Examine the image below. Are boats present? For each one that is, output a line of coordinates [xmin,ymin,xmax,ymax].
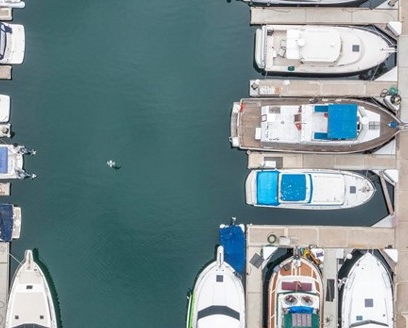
[0,22,26,64]
[243,163,378,215]
[254,24,398,79]
[187,246,247,328]
[0,202,22,239]
[0,0,23,8]
[231,97,408,163]
[218,217,247,273]
[0,139,37,180]
[6,250,57,328]
[264,245,328,328]
[334,252,399,328]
